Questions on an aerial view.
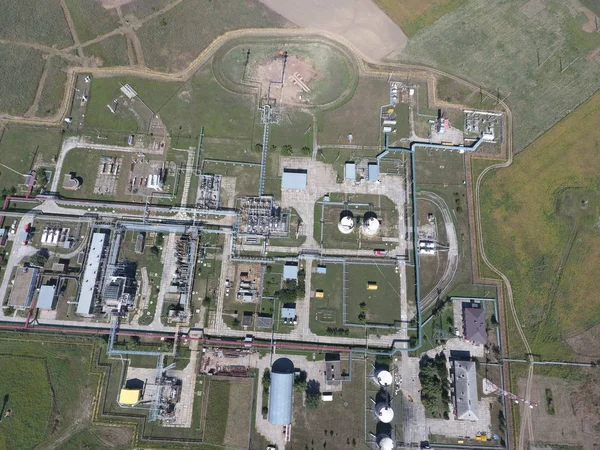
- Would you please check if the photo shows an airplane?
No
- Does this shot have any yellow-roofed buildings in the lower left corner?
Yes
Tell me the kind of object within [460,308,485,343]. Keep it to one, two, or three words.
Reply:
house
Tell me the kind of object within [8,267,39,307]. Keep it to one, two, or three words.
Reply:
building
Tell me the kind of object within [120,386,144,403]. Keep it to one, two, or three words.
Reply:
building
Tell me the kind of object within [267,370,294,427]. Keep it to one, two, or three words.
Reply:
hangar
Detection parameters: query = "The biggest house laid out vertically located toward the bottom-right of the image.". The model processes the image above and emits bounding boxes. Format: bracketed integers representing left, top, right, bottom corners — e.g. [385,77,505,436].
[450,360,477,418]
